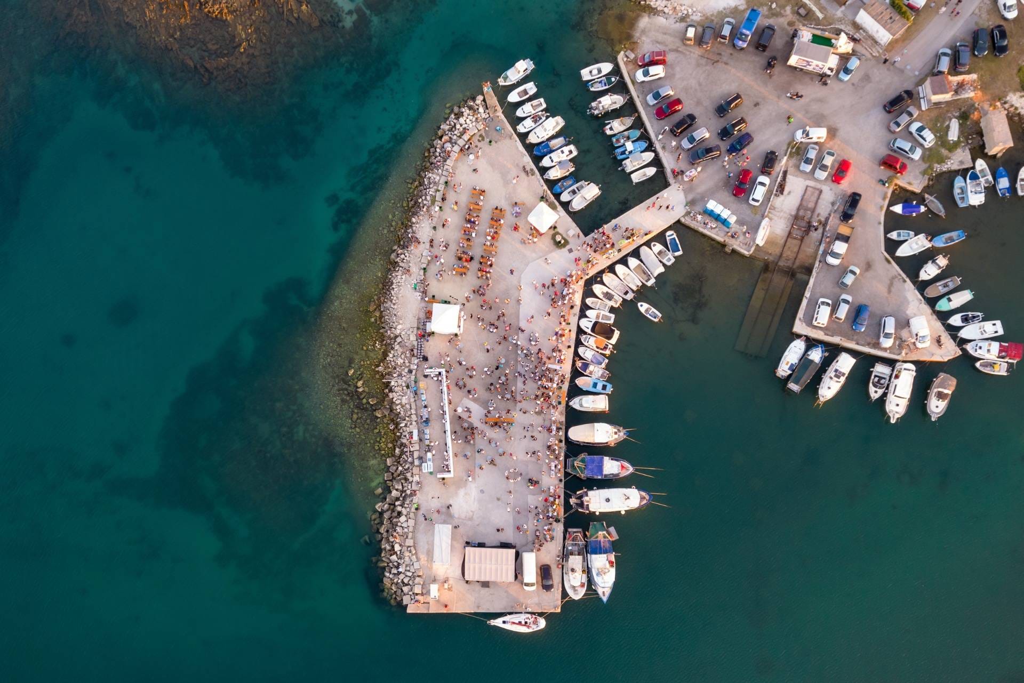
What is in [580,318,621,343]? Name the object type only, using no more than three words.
boat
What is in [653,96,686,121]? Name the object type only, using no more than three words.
car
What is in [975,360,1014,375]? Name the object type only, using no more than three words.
boat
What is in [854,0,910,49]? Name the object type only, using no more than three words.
house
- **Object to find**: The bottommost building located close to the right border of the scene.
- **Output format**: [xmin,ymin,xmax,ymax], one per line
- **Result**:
[971,101,1013,168]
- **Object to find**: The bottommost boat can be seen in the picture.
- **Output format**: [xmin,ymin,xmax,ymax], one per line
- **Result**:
[462,612,551,632]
